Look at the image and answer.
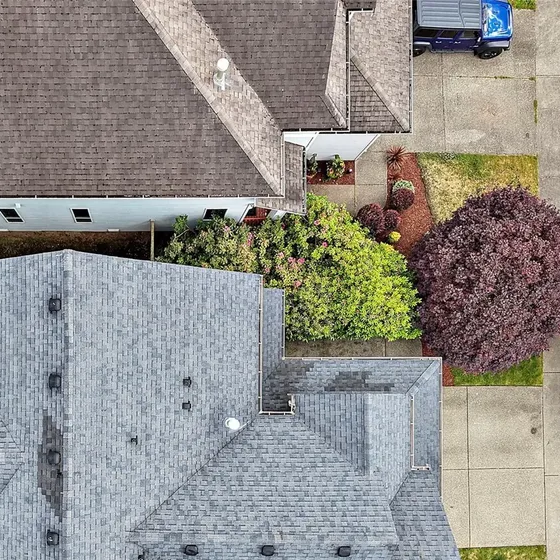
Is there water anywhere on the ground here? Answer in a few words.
No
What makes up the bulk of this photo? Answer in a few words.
buildings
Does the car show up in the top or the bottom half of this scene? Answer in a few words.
top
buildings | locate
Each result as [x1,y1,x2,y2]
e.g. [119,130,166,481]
[0,250,461,560]
[0,0,414,232]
